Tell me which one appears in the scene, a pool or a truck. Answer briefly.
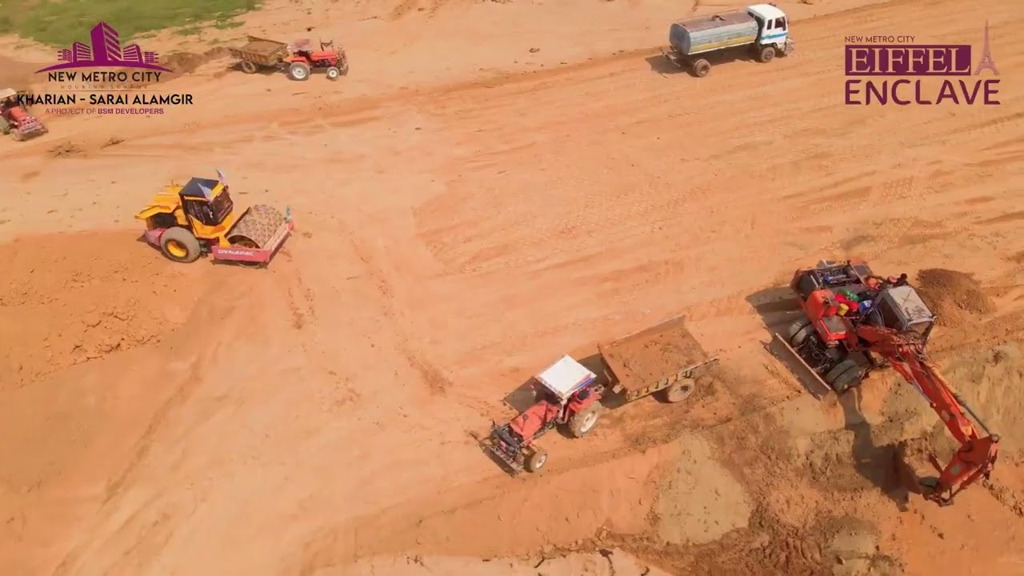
truck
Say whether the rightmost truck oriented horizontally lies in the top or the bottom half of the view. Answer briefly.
top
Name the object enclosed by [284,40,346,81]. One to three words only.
work vehicle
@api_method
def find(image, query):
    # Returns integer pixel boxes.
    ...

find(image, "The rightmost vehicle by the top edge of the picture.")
[663,6,796,81]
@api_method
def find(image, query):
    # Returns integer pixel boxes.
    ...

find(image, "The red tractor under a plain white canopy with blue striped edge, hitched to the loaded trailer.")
[473,352,600,483]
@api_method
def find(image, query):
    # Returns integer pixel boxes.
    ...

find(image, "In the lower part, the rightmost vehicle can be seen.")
[768,259,1001,507]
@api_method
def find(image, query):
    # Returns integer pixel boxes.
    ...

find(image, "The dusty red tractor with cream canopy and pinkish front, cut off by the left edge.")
[0,82,46,144]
